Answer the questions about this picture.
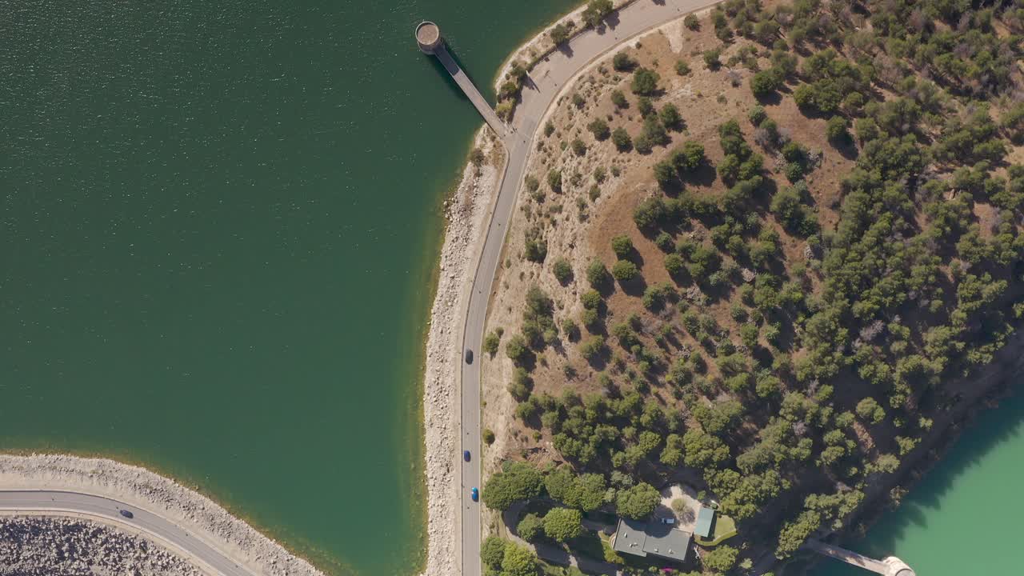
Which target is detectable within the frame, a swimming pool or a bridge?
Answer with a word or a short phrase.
bridge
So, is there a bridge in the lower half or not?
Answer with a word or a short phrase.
Yes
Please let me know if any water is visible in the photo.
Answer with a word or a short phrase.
Yes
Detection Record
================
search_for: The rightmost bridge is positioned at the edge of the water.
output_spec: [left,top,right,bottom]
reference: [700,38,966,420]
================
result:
[799,539,889,572]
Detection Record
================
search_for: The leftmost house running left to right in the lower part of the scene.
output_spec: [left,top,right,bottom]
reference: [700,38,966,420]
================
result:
[604,517,690,562]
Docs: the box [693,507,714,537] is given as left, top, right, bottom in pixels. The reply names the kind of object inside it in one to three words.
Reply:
shed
